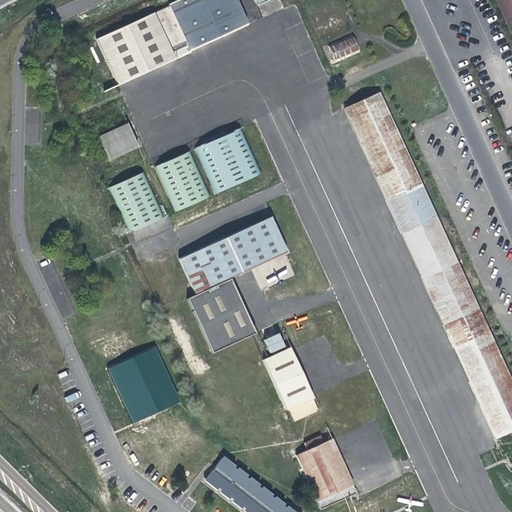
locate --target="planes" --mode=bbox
[397,497,424,512]
[266,270,288,284]
[286,316,308,330]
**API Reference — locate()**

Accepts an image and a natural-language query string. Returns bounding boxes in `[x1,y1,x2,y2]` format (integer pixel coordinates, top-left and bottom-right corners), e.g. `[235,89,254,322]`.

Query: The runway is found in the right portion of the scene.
[281,107,506,512]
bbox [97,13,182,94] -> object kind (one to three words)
hangar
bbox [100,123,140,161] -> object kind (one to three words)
building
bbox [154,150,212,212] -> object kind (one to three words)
hangar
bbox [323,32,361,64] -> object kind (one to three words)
shed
